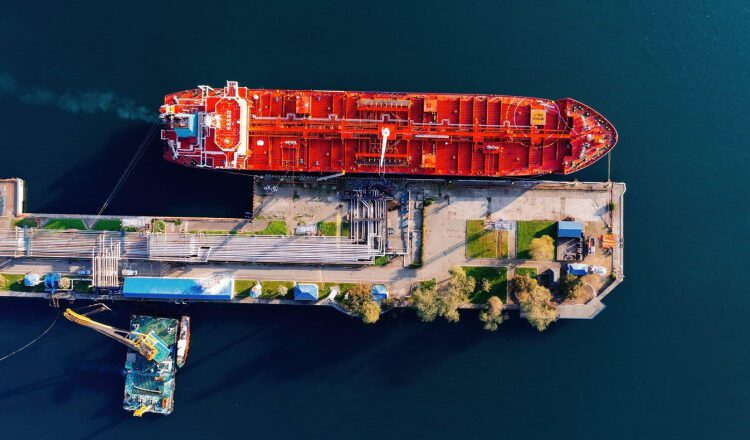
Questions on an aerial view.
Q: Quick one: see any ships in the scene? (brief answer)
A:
Yes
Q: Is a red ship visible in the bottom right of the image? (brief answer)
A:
No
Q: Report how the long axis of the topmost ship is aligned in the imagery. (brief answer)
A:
from left to right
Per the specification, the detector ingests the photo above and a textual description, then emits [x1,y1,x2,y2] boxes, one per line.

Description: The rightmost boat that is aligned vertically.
[177,315,192,368]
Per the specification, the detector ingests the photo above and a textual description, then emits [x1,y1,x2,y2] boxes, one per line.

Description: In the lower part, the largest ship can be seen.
[64,302,180,418]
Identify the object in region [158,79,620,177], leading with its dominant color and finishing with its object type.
red ship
